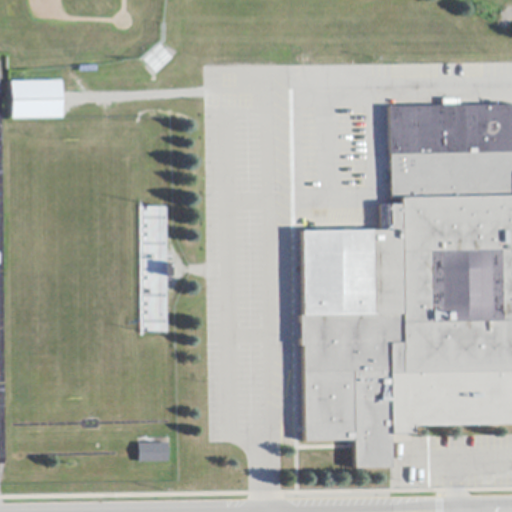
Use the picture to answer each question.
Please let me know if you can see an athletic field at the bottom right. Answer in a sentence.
No, I can find no athletic field at the bottom right.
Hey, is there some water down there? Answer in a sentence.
No, the scene doesn't show any water.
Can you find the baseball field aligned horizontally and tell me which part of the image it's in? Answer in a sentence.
The baseball field aligned horizontally appears toward the top left of the photo.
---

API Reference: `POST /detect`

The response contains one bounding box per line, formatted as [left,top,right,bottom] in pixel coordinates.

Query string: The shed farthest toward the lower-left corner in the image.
[138,442,168,462]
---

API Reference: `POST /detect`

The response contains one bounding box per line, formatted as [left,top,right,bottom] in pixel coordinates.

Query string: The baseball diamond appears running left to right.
[30,0,132,28]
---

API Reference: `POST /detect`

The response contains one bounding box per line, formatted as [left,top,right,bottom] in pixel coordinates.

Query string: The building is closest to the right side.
[300,103,512,468]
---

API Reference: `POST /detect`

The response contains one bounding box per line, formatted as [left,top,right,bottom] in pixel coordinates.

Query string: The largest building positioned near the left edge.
[12,79,64,119]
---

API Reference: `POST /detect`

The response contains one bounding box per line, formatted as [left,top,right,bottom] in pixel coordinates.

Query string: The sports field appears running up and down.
[11,124,133,417]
